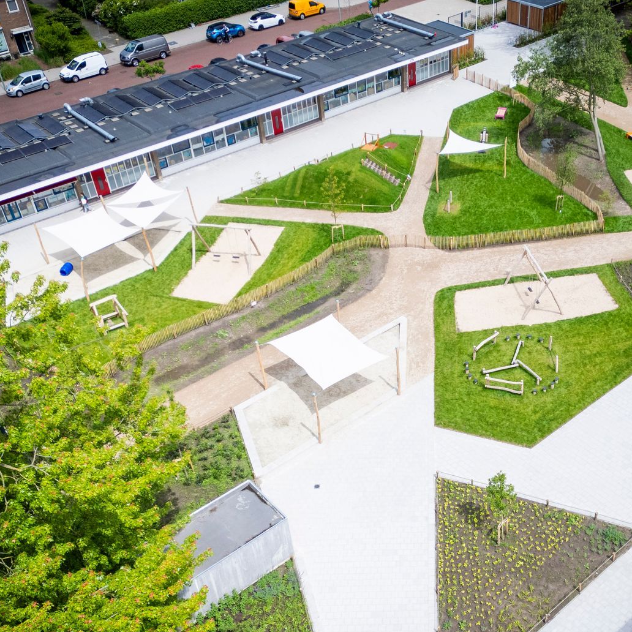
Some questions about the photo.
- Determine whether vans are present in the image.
Yes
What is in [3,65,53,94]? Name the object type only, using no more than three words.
car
